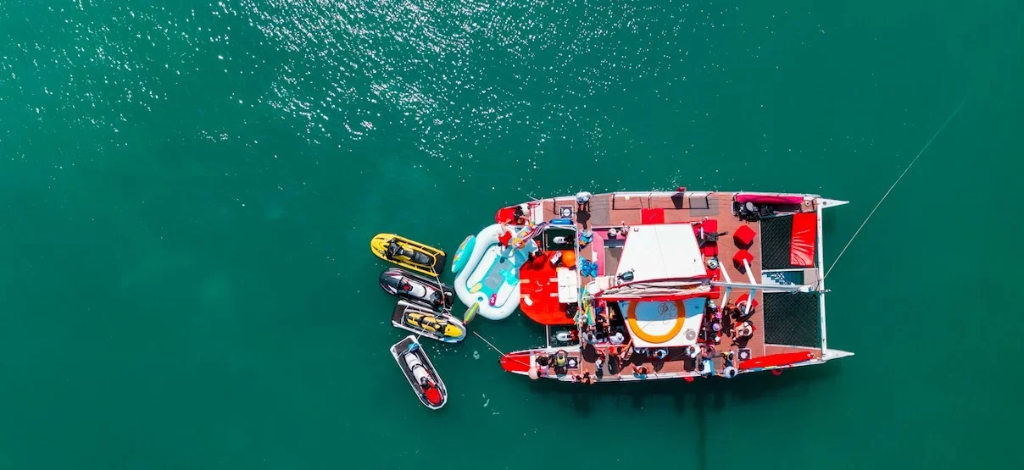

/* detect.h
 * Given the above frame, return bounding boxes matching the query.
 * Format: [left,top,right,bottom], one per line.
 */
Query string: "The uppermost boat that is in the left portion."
[369,234,447,277]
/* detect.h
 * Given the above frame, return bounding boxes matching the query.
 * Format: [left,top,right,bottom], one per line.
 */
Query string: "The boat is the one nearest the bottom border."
[390,335,446,411]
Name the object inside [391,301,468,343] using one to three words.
boat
